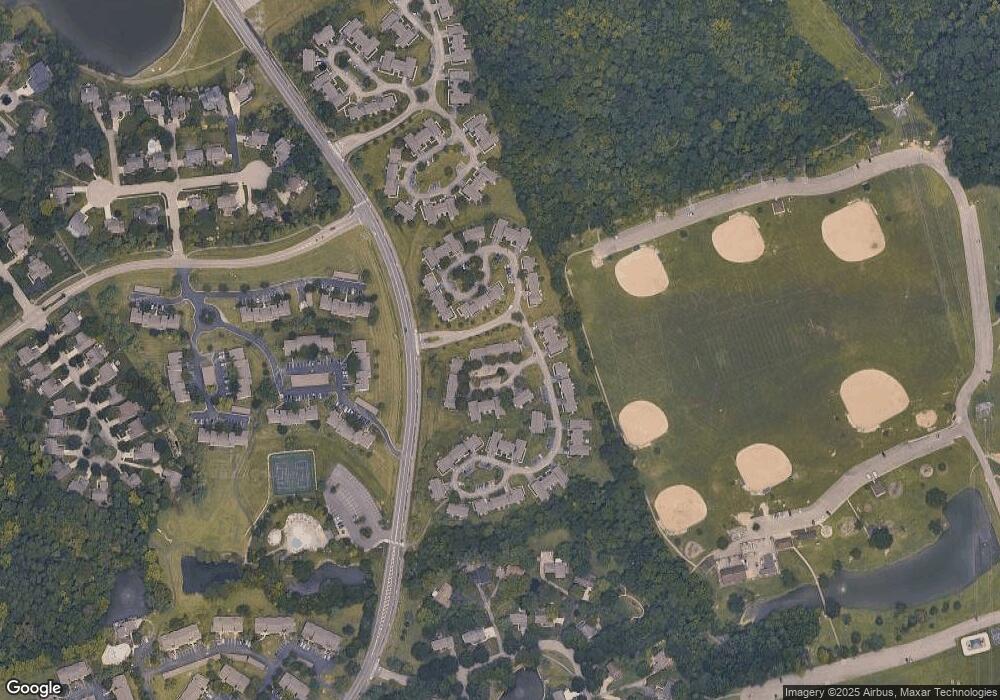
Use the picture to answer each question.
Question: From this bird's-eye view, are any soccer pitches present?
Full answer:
No, there appears to be no soccer pitch in this shot.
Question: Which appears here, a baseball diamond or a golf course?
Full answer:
I can see a baseball diamond in this picture.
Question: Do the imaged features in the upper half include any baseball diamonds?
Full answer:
Yes, you'll find a baseball diamond in the upper half.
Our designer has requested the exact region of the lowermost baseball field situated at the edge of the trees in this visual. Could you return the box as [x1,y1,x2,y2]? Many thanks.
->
[654,483,708,537]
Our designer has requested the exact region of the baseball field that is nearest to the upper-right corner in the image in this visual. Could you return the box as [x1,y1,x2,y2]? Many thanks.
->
[820,200,887,263]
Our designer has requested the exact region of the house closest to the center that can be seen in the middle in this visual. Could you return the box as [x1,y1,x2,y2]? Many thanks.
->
[469,340,523,360]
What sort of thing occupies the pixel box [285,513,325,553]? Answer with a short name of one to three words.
swimming pool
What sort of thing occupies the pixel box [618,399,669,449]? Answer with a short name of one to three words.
baseball field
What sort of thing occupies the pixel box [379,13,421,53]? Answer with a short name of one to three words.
house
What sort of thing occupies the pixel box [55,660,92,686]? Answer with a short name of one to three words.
building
